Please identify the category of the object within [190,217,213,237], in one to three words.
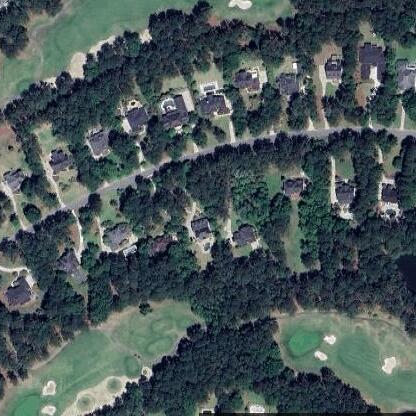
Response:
house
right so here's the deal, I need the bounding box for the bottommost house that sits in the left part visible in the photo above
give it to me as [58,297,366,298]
[5,279,33,307]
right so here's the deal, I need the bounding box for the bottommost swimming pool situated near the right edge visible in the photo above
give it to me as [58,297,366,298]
[378,205,400,219]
